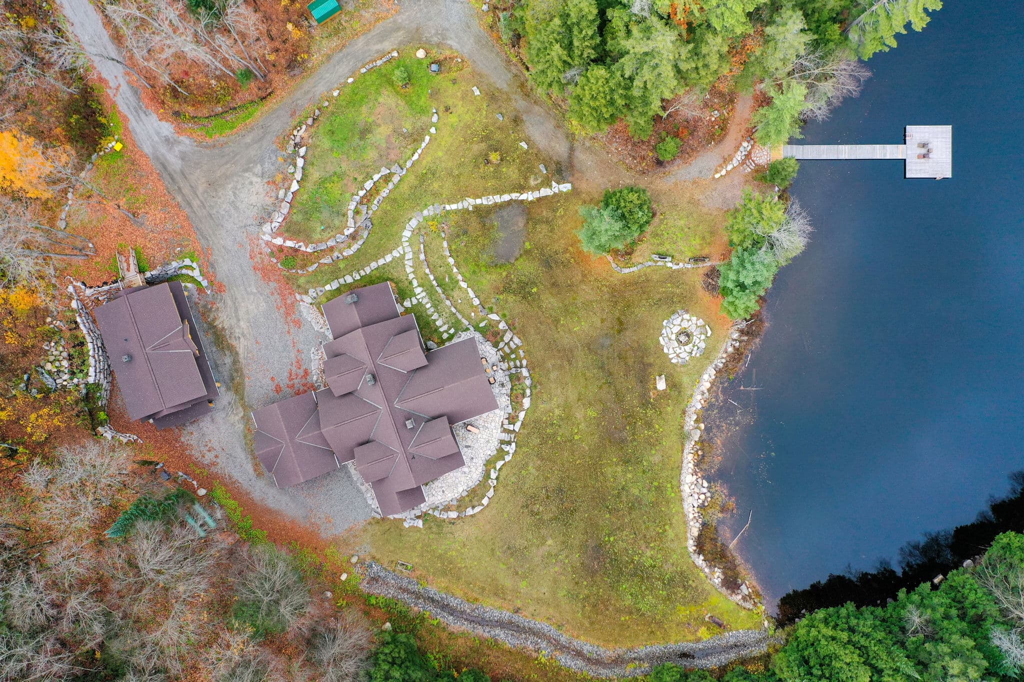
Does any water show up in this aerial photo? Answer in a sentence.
Yes, water shows up in the scene.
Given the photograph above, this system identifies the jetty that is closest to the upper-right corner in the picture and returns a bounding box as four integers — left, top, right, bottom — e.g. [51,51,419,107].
[904,125,952,179]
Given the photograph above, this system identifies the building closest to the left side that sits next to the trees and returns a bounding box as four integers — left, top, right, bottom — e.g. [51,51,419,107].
[96,280,231,430]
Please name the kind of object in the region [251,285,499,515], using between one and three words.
house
